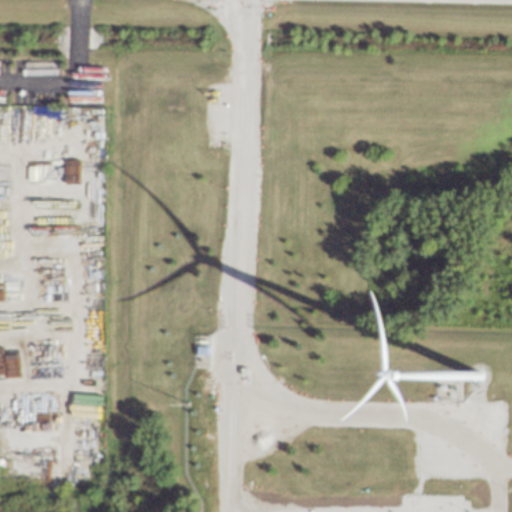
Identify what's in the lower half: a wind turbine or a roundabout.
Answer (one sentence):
There is a wind turbine in the lower half.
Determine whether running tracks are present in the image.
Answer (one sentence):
No, no running track is visible in the scene.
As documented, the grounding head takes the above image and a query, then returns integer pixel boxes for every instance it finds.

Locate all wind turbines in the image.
[348,293,496,434]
